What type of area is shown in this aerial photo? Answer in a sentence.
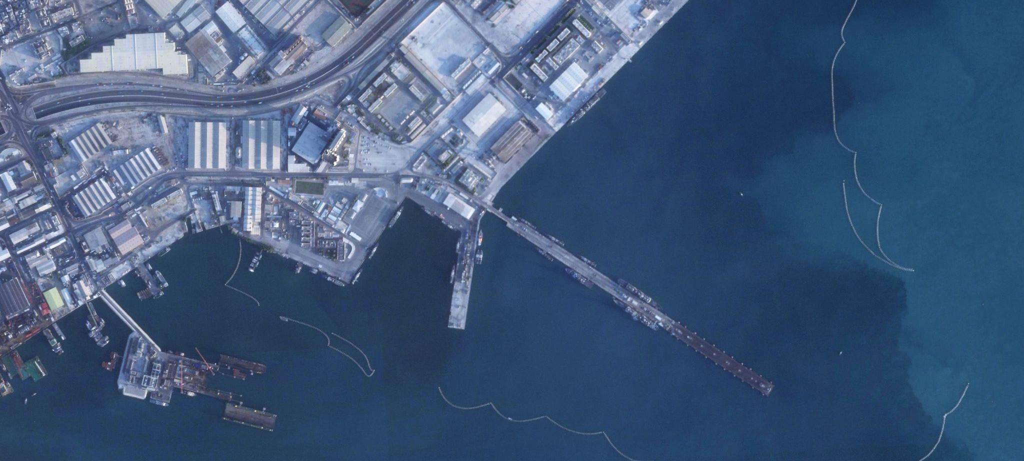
What you see here is a port.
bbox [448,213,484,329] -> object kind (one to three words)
pier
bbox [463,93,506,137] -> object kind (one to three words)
building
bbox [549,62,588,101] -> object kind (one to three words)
building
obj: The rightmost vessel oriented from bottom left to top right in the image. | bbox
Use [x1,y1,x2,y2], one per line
[568,89,606,126]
